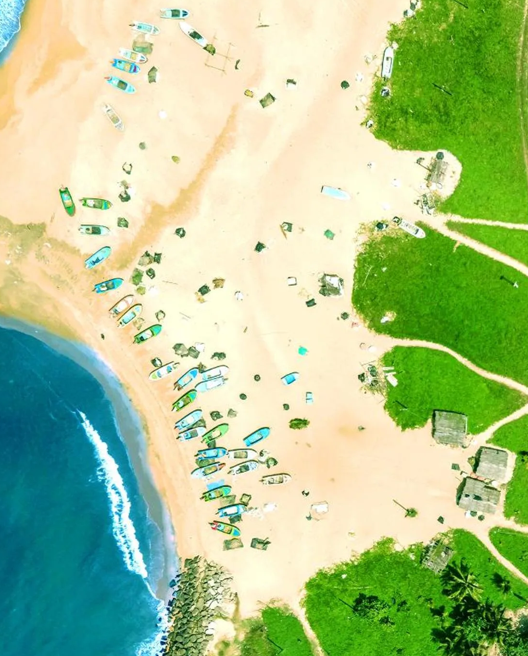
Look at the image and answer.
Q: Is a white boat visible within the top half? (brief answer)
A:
Yes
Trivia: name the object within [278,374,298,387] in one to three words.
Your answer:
boat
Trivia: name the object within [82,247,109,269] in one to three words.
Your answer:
boat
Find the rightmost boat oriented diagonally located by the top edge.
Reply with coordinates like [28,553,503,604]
[176,20,208,49]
